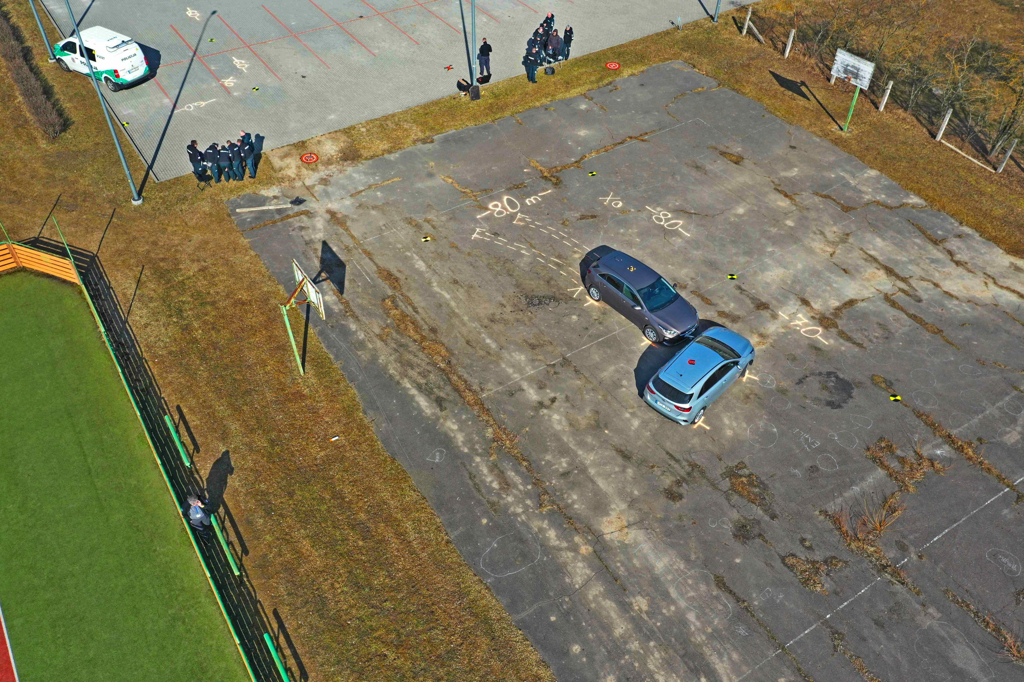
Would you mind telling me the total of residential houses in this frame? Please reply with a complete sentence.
I count no residential houses.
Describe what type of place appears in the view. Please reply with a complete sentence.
It's a sports ground.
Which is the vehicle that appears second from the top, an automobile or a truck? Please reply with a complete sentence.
The vehicle that appears second from the top in the image is an automobile.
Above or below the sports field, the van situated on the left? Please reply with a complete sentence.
The van situated on the left appears above the sports field in the picture.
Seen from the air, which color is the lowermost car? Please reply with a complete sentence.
The lowermost car looks blue in the image.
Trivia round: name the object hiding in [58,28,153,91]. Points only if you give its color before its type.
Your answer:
white van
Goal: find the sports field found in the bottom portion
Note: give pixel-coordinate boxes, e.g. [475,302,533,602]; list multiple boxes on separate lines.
[0,267,243,682]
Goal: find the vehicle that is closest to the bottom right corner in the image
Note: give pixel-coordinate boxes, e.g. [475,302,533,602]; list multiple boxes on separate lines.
[642,328,754,426]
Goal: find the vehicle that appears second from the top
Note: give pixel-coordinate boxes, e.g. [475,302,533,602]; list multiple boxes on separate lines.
[585,251,702,344]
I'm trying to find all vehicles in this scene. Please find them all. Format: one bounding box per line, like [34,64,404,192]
[58,28,153,91]
[585,251,702,344]
[642,328,754,426]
